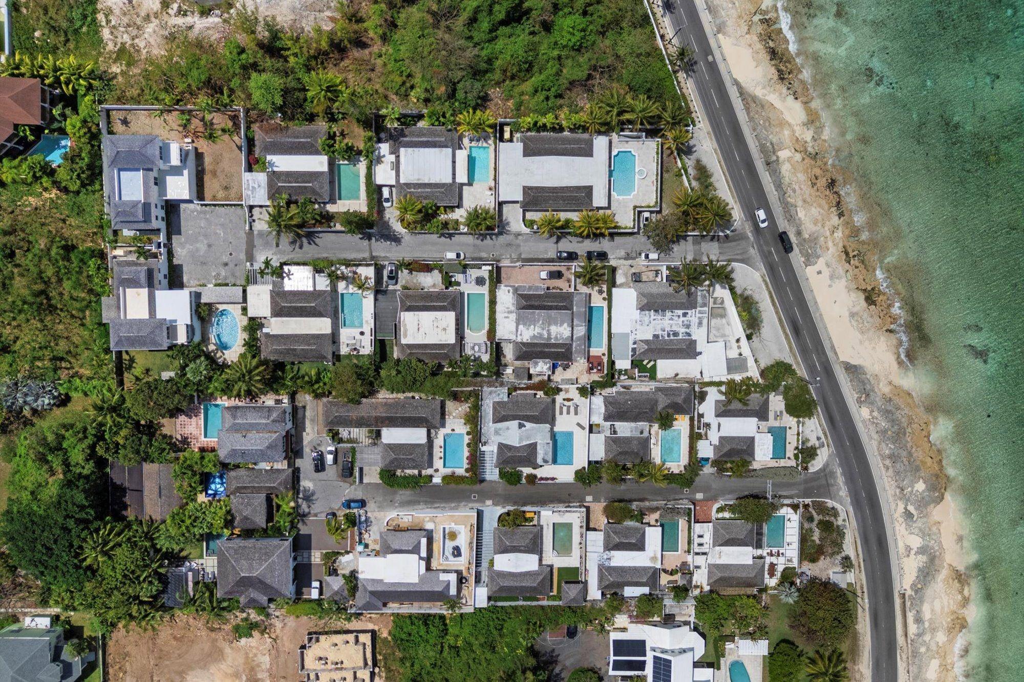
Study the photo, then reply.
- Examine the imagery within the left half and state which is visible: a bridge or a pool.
pool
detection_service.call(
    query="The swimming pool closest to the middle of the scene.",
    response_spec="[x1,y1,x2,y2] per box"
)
[464,291,488,336]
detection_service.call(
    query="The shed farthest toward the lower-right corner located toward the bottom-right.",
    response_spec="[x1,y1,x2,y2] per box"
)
[735,635,768,655]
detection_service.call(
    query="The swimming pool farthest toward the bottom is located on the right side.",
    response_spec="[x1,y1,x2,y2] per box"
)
[727,659,750,682]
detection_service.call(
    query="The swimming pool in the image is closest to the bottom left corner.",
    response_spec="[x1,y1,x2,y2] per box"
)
[205,532,226,558]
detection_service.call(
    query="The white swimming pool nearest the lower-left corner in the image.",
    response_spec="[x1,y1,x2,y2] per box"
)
[441,525,465,564]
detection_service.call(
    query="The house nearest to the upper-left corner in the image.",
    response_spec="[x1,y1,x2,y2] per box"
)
[0,77,58,159]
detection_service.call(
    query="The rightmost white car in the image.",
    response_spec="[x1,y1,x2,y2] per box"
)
[753,206,768,229]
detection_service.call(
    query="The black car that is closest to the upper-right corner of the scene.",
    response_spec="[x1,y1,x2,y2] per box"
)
[777,230,793,254]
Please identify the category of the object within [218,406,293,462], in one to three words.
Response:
house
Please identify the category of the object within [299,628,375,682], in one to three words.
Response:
building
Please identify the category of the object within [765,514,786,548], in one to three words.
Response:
swimming pool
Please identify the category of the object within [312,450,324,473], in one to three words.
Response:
vehicle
